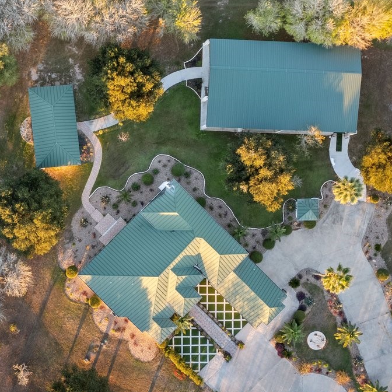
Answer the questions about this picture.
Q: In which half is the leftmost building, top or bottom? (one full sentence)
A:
The leftmost building is in the top half of the image.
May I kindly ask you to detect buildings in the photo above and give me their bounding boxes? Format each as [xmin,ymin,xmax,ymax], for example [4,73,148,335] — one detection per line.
[201,36,362,135]
[28,84,82,168]
[293,198,318,220]
[77,178,288,343]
